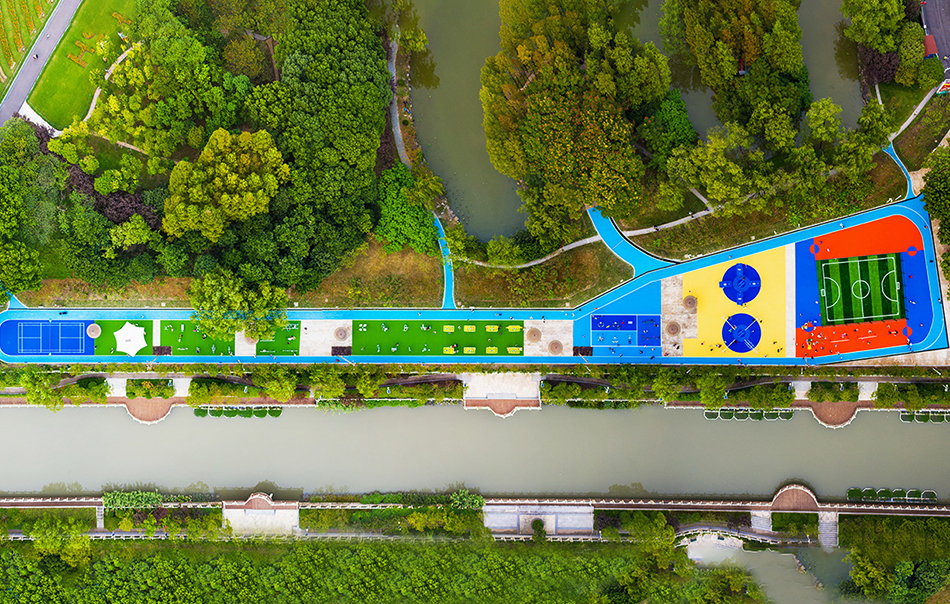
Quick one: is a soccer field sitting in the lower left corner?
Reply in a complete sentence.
No, I can find no soccer field in the lower left corner.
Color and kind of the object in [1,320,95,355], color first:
blue sports court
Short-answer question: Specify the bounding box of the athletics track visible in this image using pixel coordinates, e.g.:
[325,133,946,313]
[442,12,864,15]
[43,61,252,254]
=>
[0,195,948,366]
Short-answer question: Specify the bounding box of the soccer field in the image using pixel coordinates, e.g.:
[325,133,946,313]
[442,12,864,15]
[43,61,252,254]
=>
[817,251,912,327]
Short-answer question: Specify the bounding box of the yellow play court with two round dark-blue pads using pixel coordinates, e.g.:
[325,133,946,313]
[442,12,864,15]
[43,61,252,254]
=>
[683,245,786,355]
